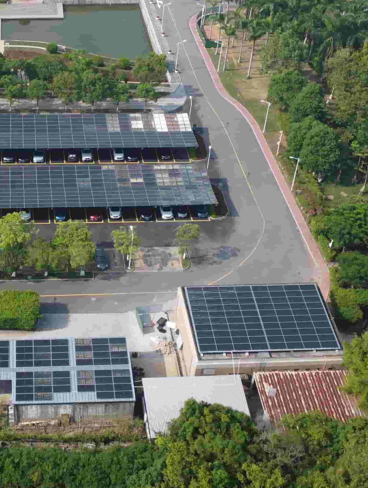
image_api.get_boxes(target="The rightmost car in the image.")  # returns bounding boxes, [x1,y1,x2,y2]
[192,205,207,219]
